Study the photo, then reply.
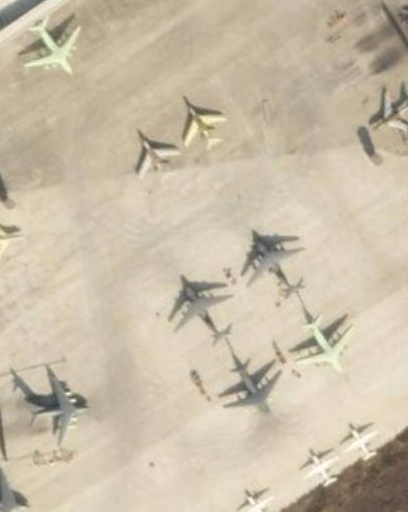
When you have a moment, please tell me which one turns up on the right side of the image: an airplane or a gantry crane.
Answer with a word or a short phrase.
airplane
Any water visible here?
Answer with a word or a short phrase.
No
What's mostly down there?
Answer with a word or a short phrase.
paved ground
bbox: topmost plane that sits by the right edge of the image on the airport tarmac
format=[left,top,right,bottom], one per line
[374,92,408,132]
